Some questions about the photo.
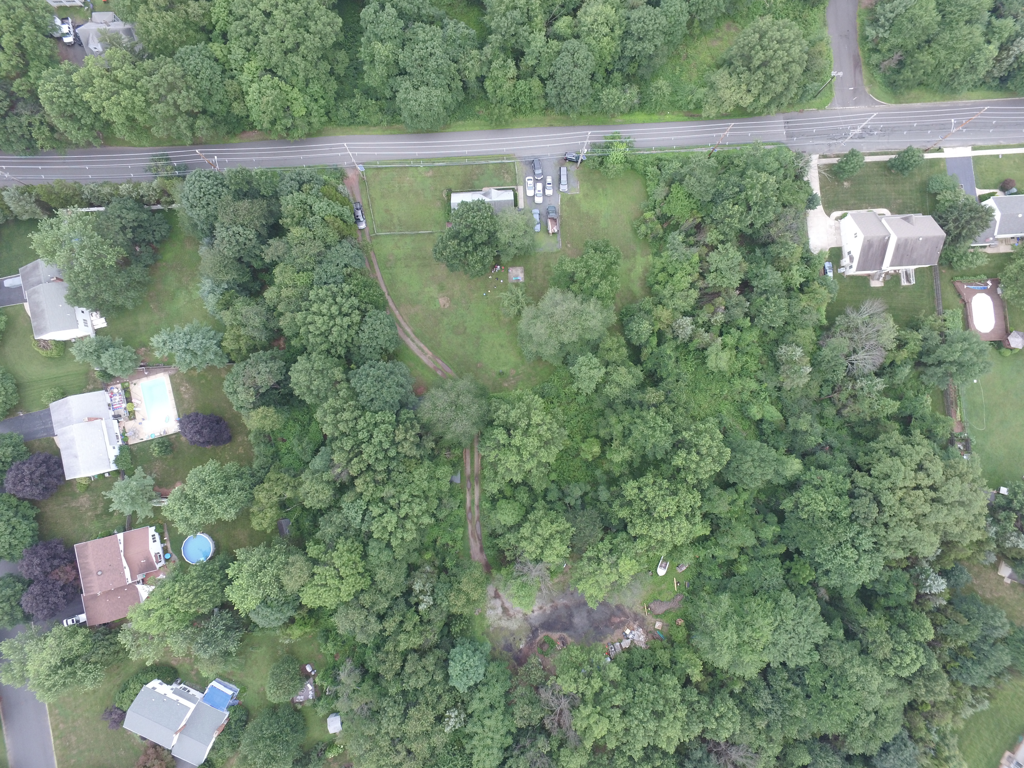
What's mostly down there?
trees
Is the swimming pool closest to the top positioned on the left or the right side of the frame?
right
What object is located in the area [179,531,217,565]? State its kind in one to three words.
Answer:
swimming pool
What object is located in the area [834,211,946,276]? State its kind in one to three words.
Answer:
house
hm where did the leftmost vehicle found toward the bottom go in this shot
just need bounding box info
[62,615,85,628]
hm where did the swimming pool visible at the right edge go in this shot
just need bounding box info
[972,293,995,333]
